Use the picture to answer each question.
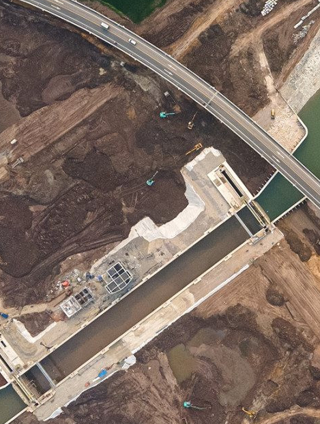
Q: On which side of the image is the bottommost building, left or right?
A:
left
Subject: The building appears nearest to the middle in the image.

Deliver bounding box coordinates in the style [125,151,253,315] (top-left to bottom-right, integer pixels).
[106,262,133,293]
